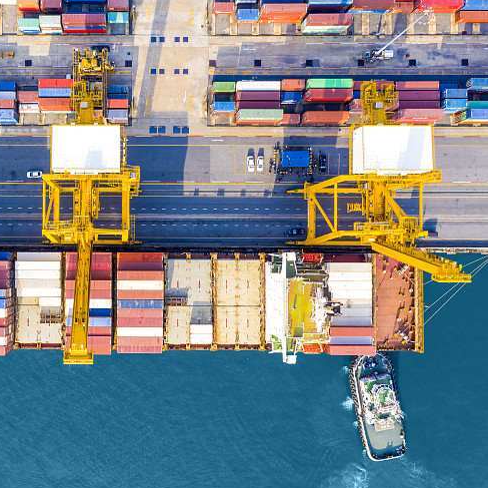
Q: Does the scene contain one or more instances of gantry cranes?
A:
Yes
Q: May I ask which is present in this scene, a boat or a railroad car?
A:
boat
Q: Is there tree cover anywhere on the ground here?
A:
No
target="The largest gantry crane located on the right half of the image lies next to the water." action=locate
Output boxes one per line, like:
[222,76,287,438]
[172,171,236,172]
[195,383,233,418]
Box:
[280,76,472,282]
